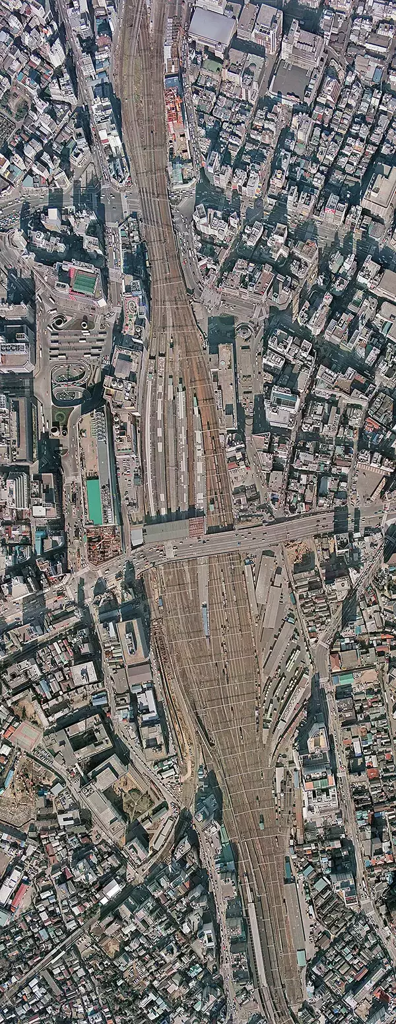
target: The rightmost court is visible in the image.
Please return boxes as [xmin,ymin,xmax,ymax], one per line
[73,270,98,294]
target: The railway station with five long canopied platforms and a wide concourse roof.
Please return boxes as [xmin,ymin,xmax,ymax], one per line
[130,357,206,545]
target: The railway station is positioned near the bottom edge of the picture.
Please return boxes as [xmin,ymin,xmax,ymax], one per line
[244,873,274,986]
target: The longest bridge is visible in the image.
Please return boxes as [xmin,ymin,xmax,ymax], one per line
[113,514,333,577]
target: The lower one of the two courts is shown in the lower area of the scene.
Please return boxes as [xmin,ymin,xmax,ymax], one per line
[10,723,41,751]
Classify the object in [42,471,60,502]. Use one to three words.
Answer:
building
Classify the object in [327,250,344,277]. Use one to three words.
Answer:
building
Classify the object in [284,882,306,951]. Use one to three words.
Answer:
shed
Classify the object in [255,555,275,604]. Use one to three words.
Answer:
shed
